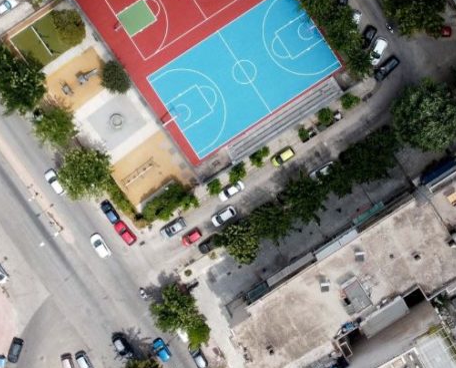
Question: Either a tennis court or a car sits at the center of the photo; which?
car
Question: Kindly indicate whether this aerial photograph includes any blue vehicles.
Yes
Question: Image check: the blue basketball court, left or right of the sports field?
to the right of it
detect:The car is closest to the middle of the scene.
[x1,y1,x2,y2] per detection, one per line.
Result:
[218,182,245,201]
